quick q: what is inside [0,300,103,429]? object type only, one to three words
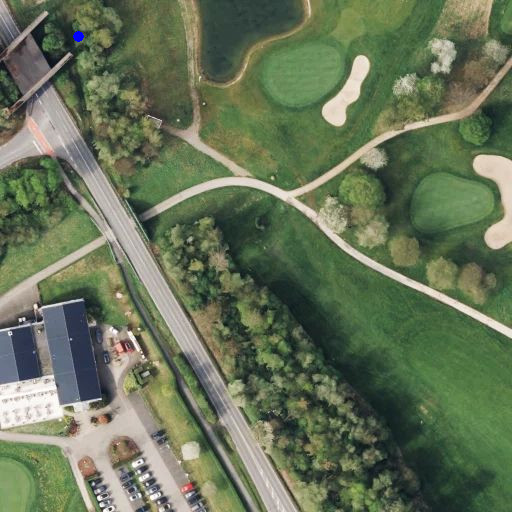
building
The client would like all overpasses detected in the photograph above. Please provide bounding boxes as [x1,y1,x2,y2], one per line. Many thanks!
[0,12,73,116]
